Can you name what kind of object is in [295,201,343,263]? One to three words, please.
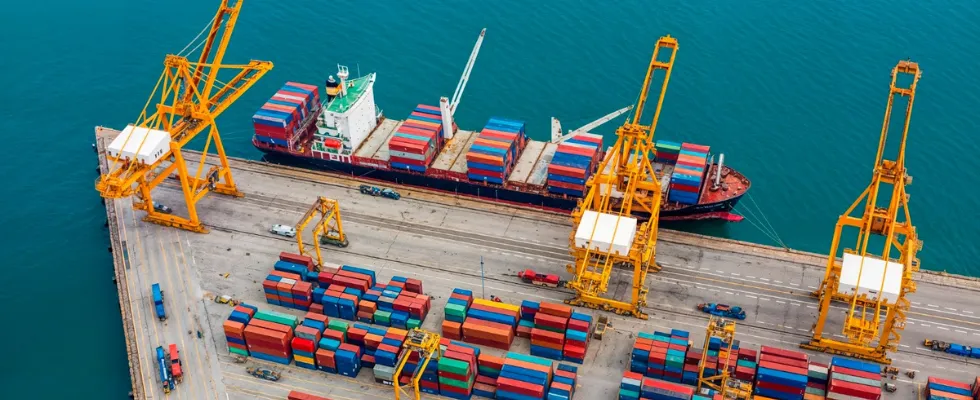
container crane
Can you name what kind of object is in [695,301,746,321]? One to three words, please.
vehicle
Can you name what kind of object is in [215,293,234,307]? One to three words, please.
work vehicle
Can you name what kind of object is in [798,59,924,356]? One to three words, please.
container crane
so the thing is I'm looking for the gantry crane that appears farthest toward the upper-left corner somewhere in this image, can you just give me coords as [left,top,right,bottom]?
[96,0,266,225]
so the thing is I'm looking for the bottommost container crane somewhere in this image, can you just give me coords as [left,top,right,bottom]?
[724,375,753,400]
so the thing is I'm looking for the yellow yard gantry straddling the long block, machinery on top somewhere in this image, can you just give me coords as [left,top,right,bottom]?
[396,321,447,400]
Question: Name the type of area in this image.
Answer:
port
